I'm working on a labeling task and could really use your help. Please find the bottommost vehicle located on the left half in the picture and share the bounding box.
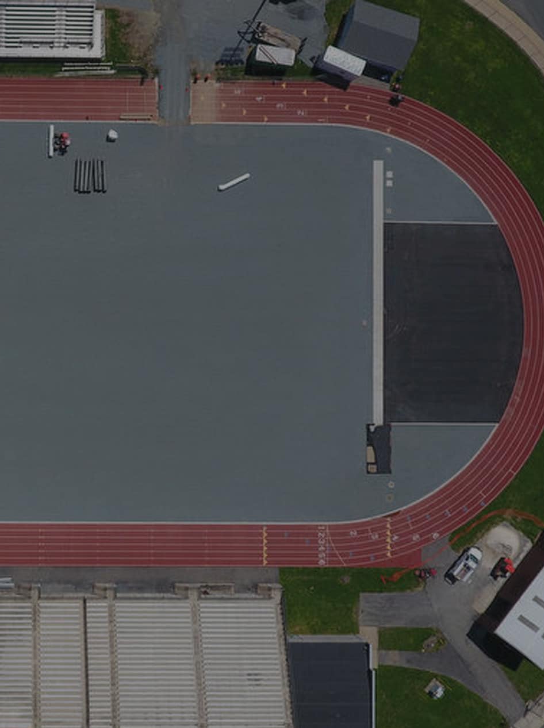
[53,134,71,149]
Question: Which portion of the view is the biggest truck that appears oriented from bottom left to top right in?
bottom right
